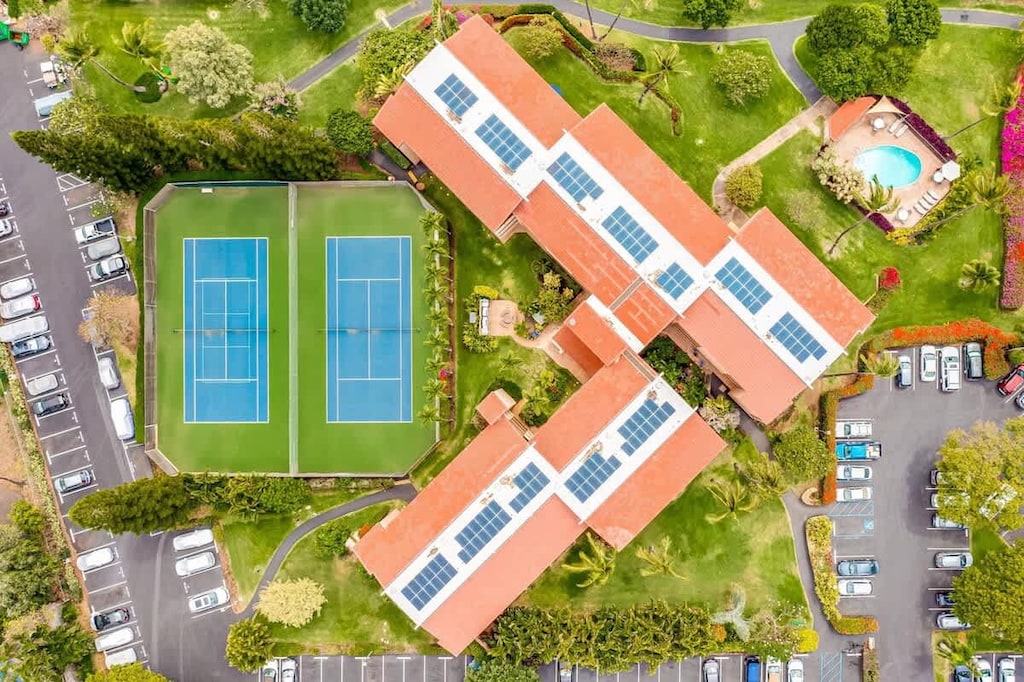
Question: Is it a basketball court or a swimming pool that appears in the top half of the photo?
swimming pool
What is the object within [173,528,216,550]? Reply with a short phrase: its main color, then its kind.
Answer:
white car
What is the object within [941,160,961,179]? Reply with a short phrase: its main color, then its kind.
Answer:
white umbrella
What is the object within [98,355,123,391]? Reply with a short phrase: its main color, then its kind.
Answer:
white car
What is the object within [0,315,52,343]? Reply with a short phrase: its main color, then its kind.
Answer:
white vehicle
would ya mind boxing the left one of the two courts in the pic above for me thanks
[157,187,289,472]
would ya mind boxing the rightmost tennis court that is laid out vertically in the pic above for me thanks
[297,187,437,472]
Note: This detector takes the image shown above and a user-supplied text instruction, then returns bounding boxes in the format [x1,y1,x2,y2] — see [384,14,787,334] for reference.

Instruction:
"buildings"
[374,14,875,423]
[354,344,728,657]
